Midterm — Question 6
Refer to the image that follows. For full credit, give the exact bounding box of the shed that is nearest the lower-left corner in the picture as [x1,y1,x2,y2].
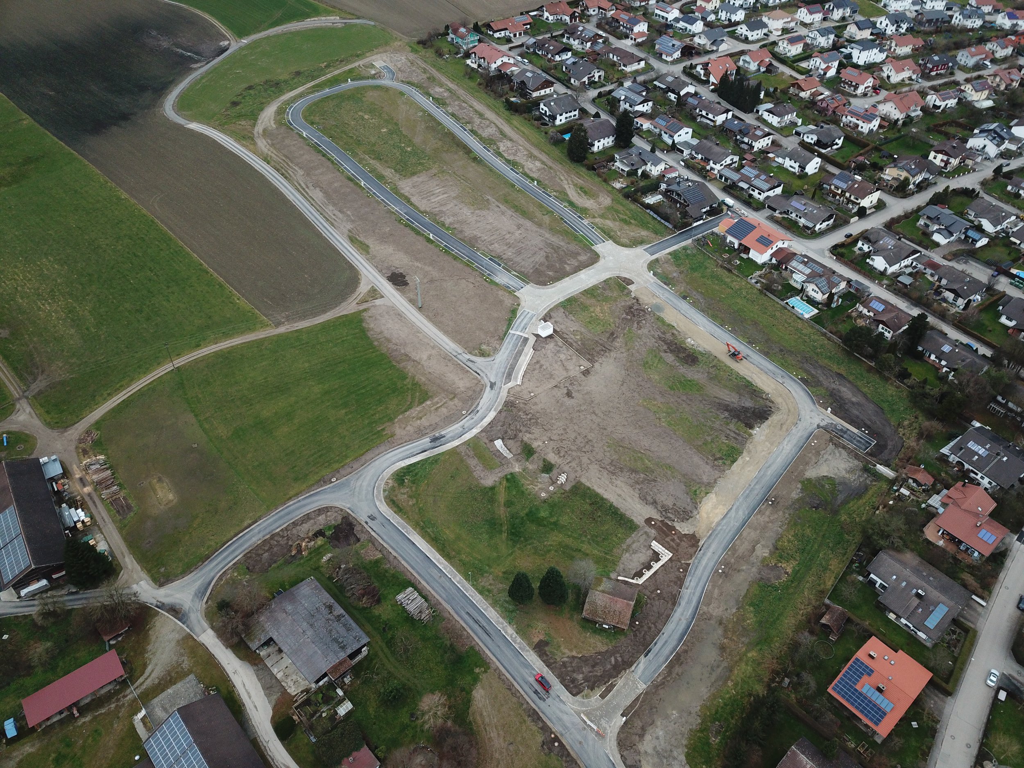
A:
[22,650,135,745]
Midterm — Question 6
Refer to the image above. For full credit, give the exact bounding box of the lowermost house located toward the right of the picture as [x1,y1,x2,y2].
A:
[777,730,851,768]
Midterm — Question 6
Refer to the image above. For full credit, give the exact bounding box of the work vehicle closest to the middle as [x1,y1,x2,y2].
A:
[725,339,744,361]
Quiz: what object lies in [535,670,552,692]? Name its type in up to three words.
car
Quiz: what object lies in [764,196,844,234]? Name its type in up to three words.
house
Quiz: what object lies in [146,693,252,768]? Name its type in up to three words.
barn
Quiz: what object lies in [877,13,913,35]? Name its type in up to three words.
house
